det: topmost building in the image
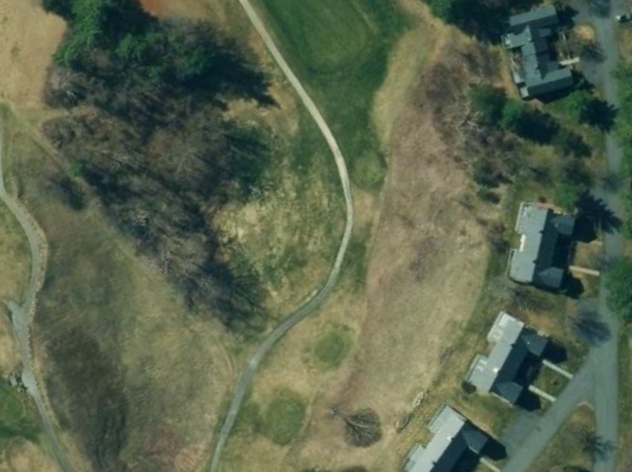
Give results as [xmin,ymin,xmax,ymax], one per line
[502,6,576,99]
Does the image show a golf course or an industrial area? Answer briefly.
golf course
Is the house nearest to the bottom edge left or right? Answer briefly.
right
